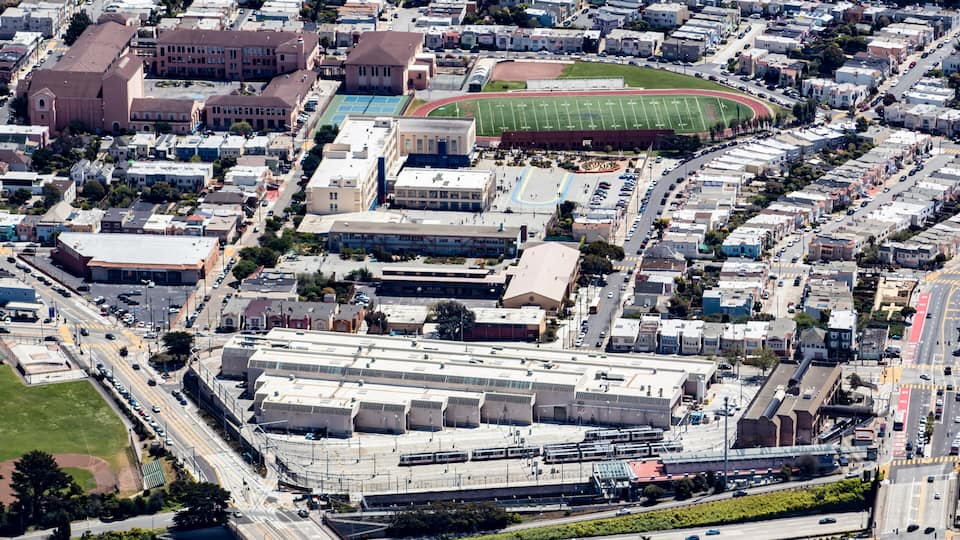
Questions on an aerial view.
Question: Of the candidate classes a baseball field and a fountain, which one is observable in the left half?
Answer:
baseball field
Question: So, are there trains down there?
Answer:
Yes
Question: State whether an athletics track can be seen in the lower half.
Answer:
No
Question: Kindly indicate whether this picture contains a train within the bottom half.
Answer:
Yes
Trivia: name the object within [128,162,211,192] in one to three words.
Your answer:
house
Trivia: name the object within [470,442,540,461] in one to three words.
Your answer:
train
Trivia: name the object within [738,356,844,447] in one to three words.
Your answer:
barn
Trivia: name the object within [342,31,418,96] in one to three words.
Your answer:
building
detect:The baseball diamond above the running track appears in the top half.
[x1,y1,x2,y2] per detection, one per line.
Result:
[497,58,574,81]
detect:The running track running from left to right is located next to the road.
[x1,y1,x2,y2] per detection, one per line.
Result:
[407,90,774,142]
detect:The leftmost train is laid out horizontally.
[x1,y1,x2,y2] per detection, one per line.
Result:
[398,445,469,465]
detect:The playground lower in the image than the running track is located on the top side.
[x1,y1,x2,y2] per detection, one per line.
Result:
[475,158,596,213]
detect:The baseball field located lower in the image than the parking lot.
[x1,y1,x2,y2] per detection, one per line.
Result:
[0,363,138,497]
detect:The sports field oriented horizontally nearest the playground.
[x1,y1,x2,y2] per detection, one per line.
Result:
[430,97,750,135]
